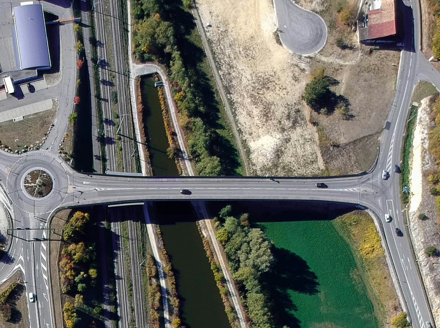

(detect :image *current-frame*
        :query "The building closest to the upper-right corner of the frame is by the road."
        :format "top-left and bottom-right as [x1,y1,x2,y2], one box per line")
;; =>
[353,0,395,47]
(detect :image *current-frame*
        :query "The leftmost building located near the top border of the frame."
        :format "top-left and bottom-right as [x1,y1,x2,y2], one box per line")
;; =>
[11,2,53,75]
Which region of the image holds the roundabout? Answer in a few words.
left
